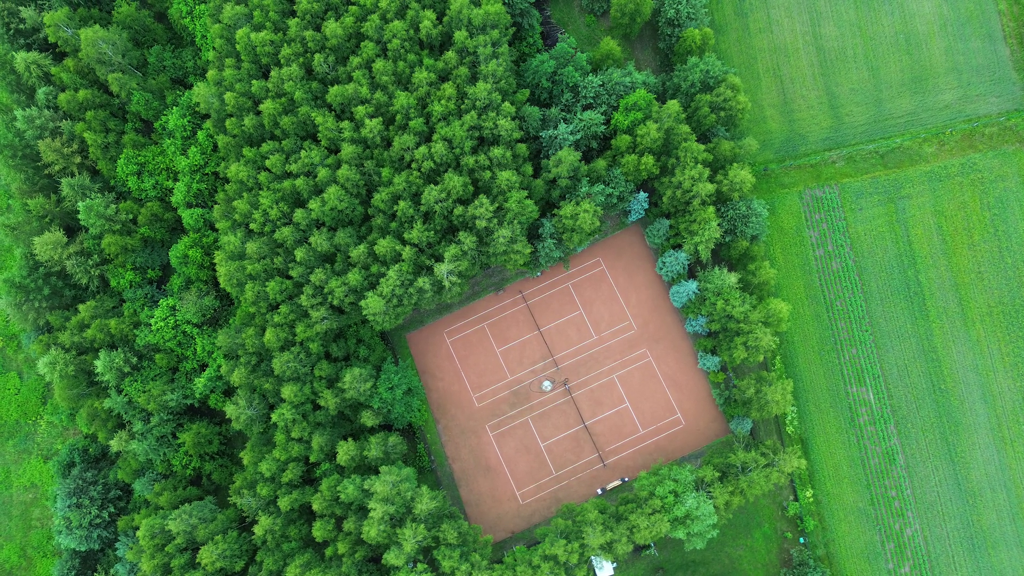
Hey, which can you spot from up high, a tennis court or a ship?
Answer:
tennis court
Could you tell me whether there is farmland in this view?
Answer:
Yes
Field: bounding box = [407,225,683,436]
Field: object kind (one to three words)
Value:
tennis court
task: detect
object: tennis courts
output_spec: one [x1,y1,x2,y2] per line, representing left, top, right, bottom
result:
[407,225,683,436]
[439,321,728,542]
